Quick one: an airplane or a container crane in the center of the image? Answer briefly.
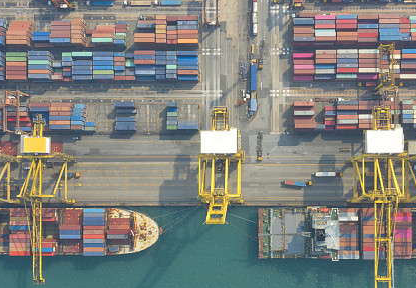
container crane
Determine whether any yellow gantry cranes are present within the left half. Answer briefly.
Yes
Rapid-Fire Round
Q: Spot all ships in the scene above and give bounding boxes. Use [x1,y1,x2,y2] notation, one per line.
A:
[254,208,416,287]
[0,208,163,256]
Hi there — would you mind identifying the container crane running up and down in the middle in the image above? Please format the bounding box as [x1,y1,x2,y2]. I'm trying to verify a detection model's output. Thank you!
[195,104,249,226]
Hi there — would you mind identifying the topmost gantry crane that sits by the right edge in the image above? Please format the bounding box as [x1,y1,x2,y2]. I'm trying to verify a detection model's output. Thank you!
[368,44,396,94]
